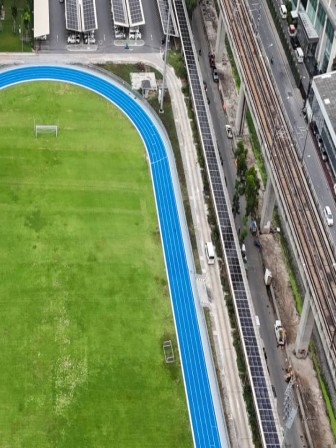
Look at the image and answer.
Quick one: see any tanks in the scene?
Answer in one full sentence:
No, I find no tank anywhere in the image.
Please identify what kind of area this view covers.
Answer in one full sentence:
This image shows a sports ground.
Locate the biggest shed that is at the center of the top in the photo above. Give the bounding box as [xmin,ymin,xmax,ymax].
[130,70,156,91]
